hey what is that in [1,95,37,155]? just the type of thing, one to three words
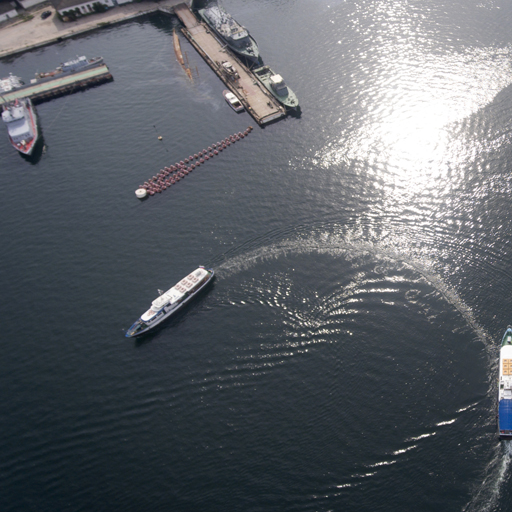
ship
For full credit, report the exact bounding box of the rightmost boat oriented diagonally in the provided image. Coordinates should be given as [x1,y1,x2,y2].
[253,68,297,108]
